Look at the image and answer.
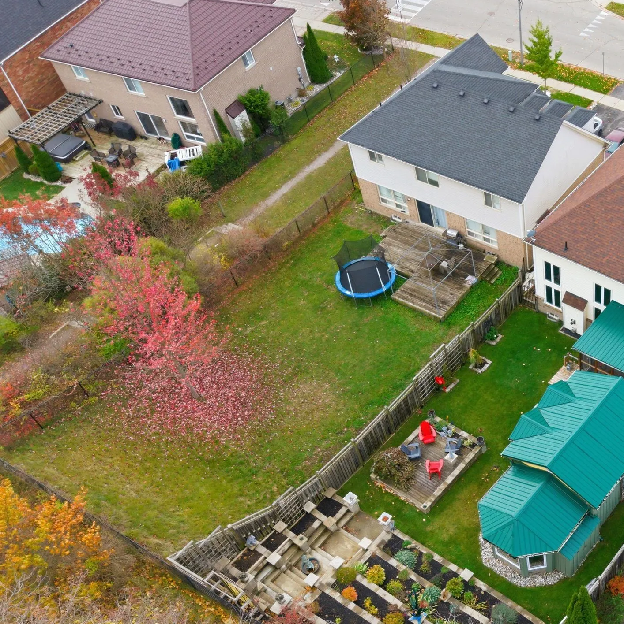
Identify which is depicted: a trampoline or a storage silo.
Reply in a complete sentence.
Of the two, only a trampoline appears.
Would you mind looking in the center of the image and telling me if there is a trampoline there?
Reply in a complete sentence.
Yes, in the center of the image there is a trampoline.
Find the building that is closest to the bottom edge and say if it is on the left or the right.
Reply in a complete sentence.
It is on the right.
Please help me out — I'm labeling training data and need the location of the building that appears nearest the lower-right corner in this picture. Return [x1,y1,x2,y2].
[477,369,624,577]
